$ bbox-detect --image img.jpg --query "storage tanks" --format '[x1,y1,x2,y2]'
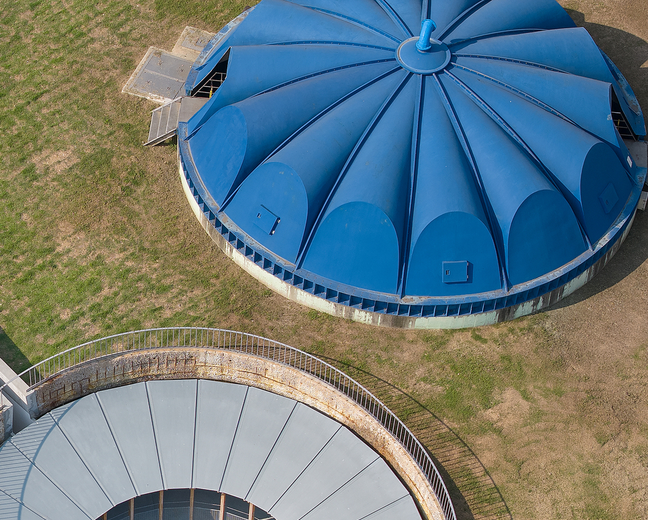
[179,0,647,329]
[0,342,453,520]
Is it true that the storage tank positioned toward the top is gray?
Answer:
No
